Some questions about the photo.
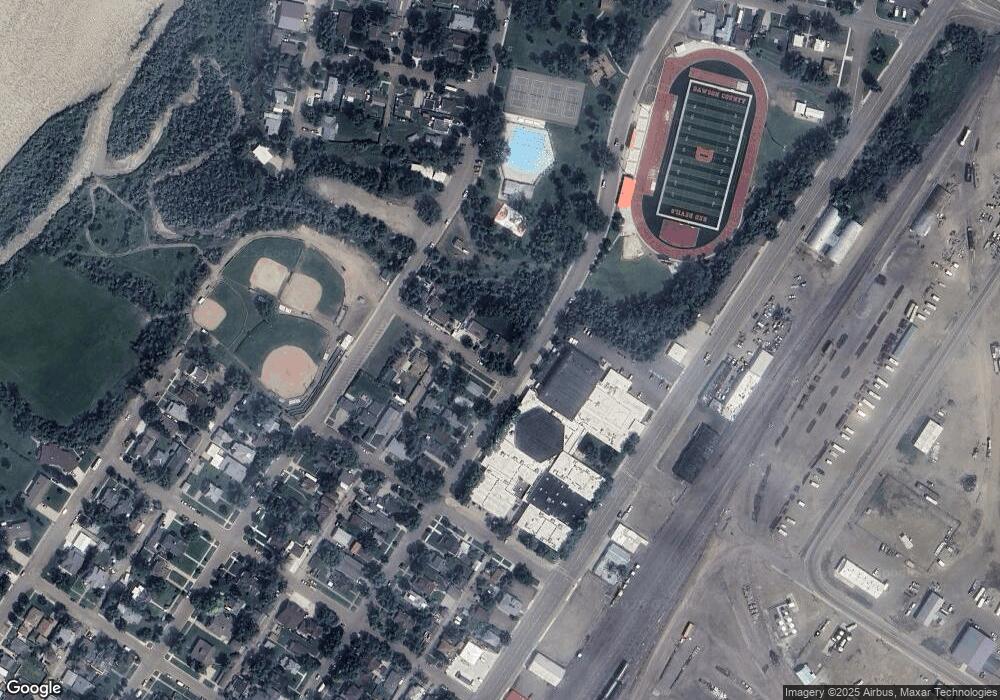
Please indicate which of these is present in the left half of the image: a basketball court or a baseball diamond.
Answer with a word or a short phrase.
baseball diamond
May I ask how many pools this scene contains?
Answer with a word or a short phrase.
1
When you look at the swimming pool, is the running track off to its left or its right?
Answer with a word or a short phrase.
right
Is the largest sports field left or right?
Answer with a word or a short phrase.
right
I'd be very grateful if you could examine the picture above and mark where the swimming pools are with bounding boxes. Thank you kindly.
[501,121,554,185]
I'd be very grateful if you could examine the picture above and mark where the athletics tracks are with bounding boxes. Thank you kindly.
[630,49,769,260]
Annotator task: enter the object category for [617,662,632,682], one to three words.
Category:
rail car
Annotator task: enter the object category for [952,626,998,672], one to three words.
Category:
building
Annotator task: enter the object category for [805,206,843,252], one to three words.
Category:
shed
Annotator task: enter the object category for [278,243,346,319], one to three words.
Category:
baseball field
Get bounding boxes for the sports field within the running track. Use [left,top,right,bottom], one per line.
[657,80,752,229]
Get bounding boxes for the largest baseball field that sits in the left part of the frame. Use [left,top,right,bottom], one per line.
[234,314,328,405]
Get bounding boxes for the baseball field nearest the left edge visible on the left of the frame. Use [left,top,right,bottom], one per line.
[193,279,248,346]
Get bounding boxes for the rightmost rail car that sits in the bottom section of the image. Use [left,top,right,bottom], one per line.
[682,621,695,638]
